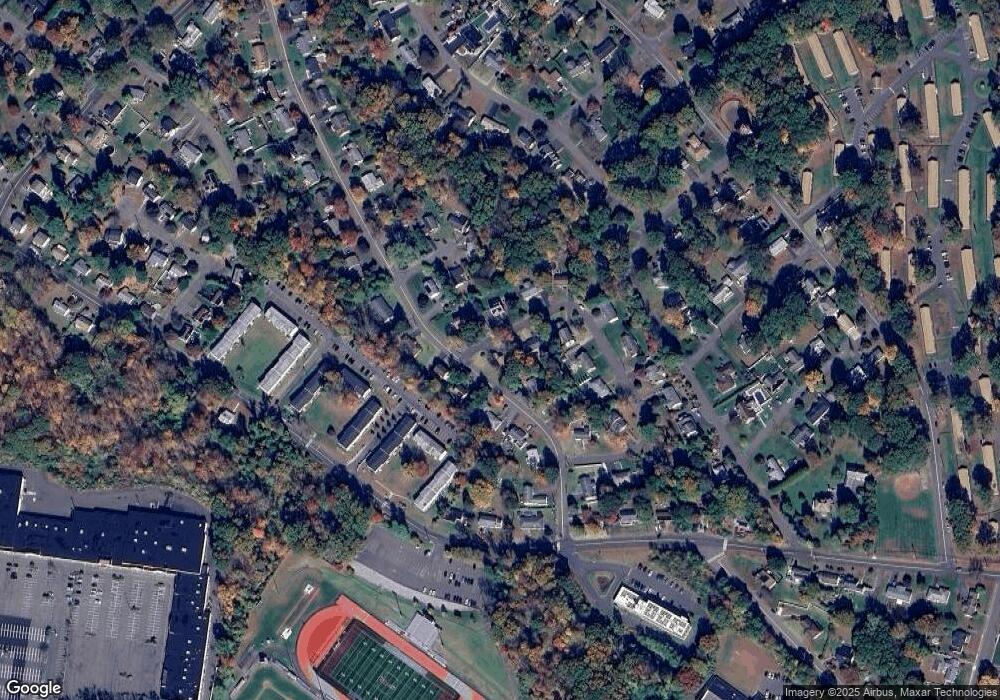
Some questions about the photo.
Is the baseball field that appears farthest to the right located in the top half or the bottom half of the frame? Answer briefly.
bottom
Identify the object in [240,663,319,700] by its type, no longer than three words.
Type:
baseball field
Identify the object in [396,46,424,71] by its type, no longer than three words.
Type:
house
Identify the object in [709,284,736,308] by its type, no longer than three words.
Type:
house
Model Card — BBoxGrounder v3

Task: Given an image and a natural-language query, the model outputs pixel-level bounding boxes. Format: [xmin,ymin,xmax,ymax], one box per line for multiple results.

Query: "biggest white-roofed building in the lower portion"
[615,587,694,642]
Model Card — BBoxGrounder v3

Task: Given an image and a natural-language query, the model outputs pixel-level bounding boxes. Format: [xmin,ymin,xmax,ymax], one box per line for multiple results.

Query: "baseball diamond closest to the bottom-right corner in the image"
[876,471,939,558]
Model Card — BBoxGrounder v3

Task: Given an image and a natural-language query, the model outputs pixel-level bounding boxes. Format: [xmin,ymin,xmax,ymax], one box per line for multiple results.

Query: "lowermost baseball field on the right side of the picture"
[714,634,783,692]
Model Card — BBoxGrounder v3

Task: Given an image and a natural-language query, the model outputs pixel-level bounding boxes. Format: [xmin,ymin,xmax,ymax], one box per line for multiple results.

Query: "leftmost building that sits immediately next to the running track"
[0,469,211,700]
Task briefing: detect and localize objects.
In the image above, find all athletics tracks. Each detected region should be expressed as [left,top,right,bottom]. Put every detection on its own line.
[296,592,480,700]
